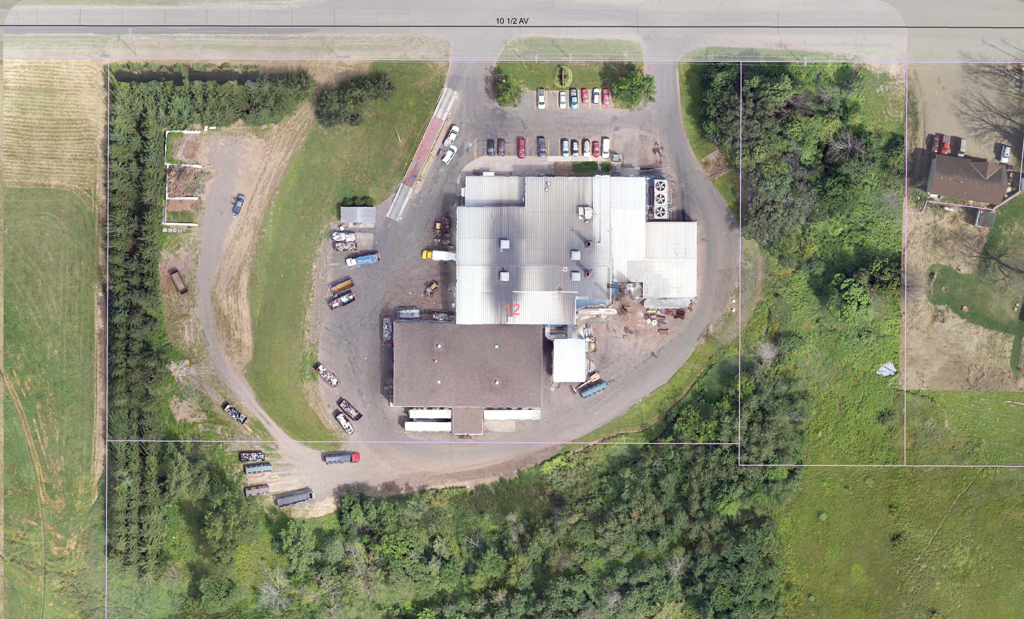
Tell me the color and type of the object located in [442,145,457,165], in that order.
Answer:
white vehicle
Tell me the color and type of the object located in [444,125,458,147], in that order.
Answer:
white vehicle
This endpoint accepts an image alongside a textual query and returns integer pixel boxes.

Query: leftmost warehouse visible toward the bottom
[393,324,543,439]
